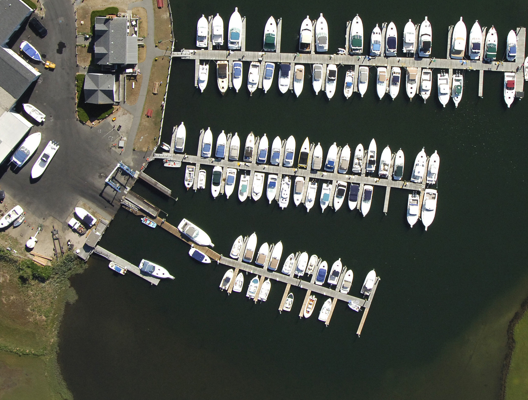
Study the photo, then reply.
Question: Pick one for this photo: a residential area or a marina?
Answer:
marina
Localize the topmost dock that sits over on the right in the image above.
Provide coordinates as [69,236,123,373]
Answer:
[182,16,528,96]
